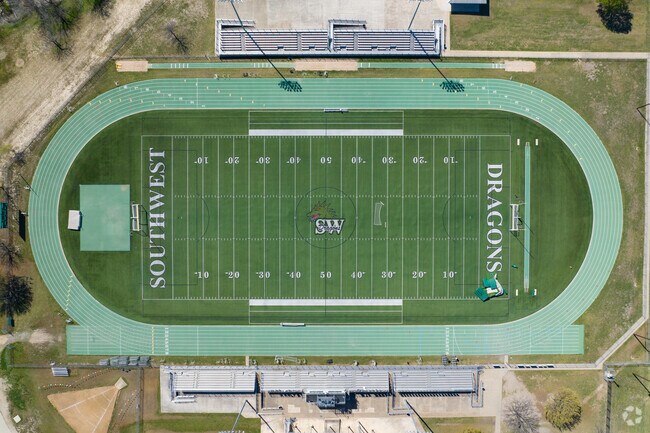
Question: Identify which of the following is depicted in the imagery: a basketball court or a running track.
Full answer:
Visible in the photo is a running track.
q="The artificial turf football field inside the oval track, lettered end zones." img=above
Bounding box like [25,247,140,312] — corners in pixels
[58,109,593,325]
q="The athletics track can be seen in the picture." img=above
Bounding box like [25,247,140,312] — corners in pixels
[27,78,624,356]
